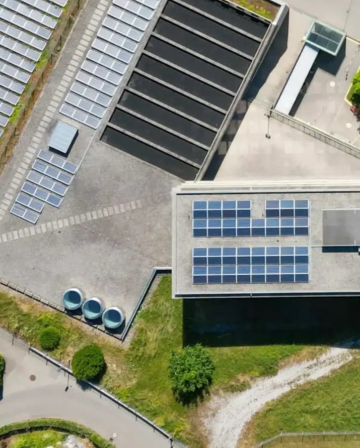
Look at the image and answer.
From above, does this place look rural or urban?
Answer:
urban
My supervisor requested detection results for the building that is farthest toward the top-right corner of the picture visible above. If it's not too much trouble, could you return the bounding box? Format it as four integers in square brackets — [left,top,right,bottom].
[302,20,348,58]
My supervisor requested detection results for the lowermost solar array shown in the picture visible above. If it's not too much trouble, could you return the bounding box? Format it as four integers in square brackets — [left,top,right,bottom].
[191,246,307,283]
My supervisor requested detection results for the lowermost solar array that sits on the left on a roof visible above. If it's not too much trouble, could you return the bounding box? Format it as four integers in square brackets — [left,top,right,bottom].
[8,150,78,223]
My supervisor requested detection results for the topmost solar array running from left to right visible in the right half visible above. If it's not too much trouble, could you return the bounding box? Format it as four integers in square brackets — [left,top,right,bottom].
[191,199,308,237]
